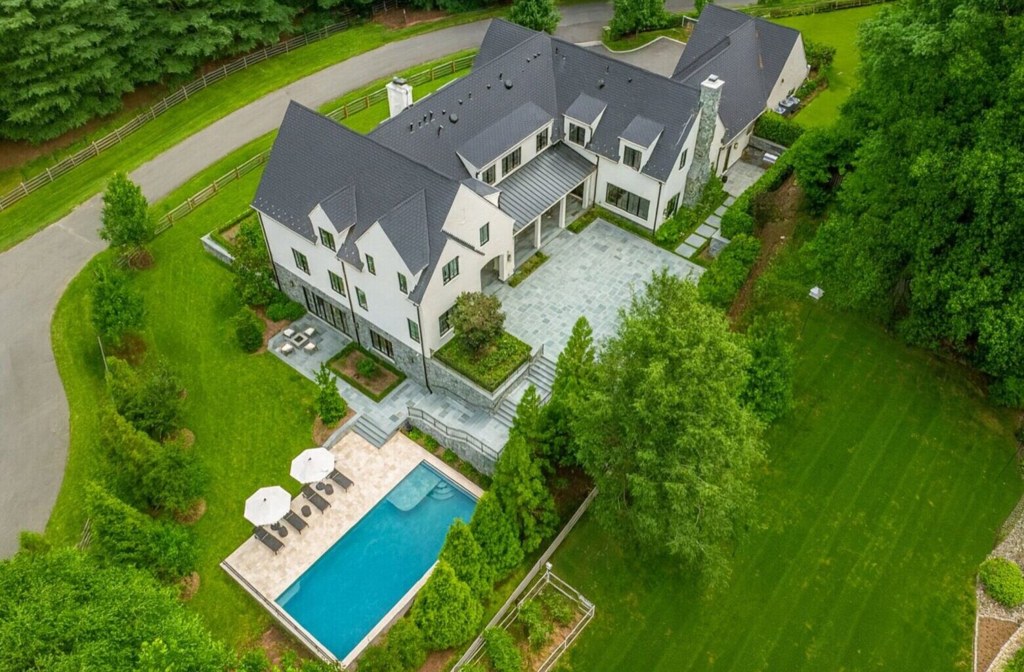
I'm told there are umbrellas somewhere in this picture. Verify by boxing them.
[241,486,291,536]
[287,448,334,496]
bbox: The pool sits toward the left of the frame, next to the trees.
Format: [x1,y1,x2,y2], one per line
[217,460,488,672]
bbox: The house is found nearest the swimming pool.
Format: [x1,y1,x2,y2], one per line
[250,0,812,396]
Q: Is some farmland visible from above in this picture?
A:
No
